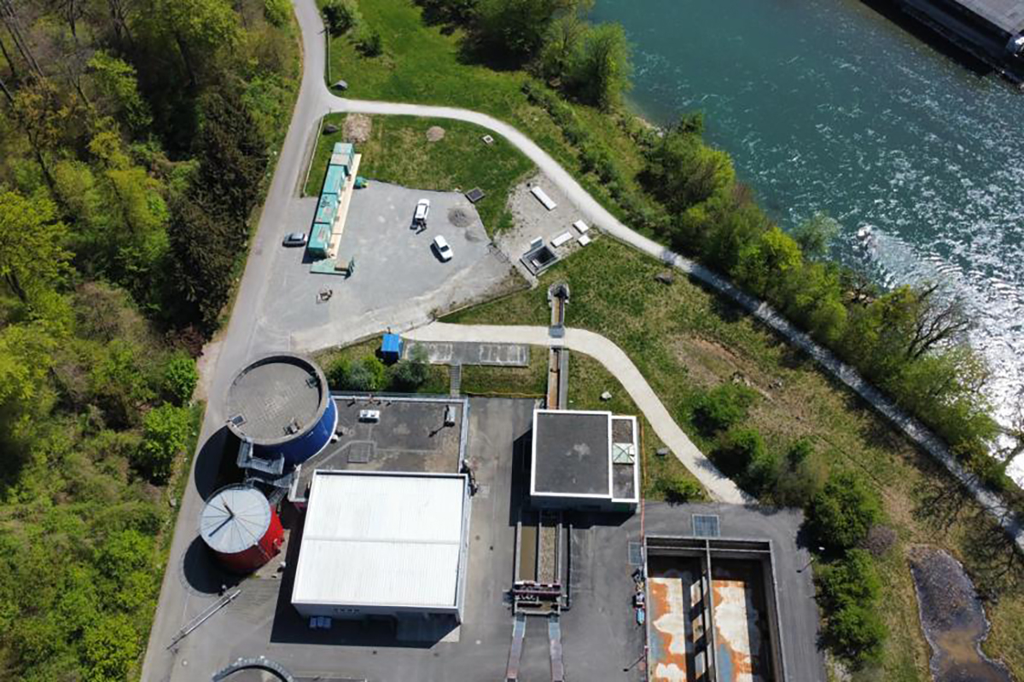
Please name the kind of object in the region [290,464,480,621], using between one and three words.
building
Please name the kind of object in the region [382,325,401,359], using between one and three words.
shed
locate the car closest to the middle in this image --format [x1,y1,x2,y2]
[433,235,453,260]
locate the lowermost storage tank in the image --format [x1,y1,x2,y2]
[199,480,289,574]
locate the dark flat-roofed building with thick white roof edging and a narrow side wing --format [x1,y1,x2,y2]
[531,410,640,514]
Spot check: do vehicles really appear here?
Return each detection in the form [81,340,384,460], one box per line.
[281,232,308,247]
[411,201,429,225]
[433,235,453,260]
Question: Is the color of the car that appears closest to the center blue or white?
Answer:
white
